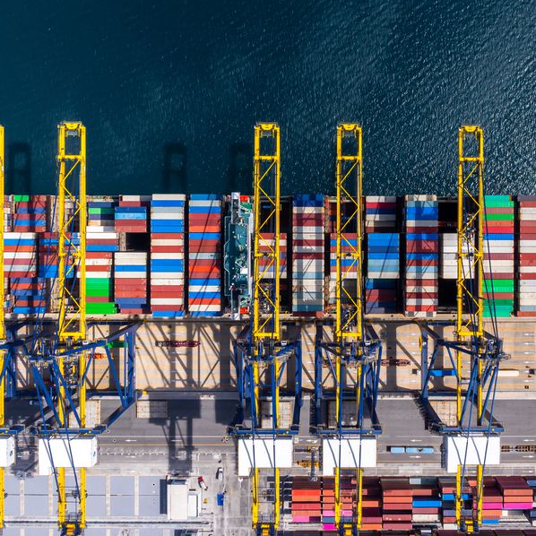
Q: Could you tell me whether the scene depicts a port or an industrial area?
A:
port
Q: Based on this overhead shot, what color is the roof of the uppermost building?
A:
white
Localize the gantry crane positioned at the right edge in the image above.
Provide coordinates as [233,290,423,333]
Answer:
[417,121,512,535]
